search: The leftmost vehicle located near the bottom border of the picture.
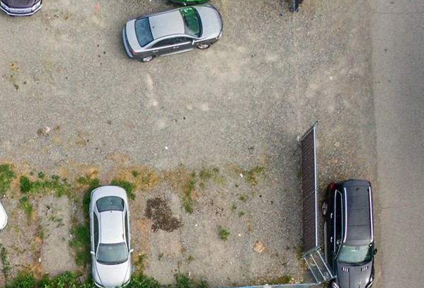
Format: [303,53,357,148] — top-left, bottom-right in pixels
[89,186,136,288]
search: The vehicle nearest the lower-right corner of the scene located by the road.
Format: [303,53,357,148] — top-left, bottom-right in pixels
[324,176,381,288]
